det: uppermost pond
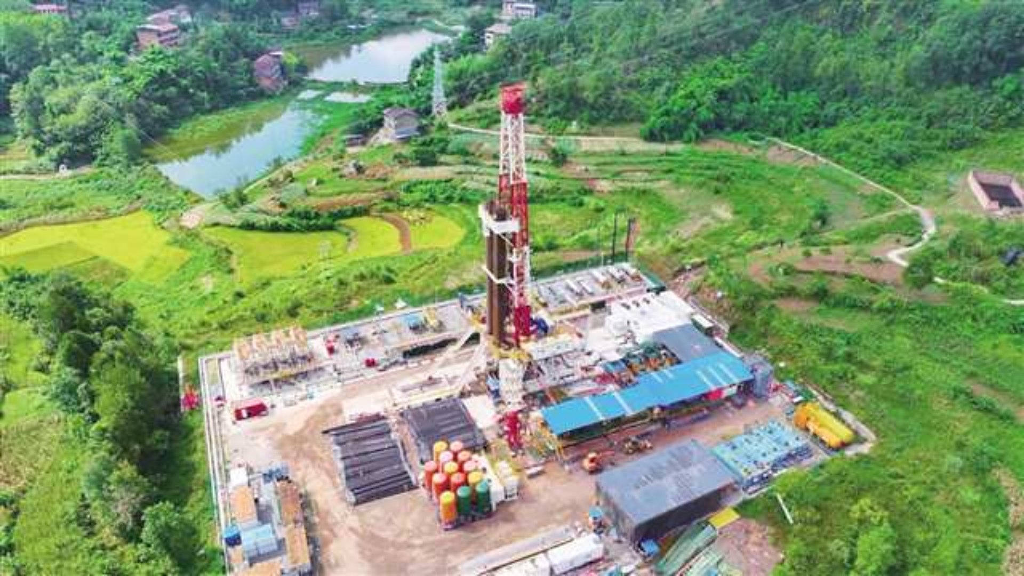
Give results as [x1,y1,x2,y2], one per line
[305,29,438,82]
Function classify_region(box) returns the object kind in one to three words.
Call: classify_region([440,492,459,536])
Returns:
silo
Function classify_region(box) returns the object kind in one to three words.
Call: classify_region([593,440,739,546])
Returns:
shed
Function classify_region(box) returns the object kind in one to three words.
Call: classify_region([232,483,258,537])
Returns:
building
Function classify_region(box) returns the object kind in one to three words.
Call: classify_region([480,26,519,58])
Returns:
house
